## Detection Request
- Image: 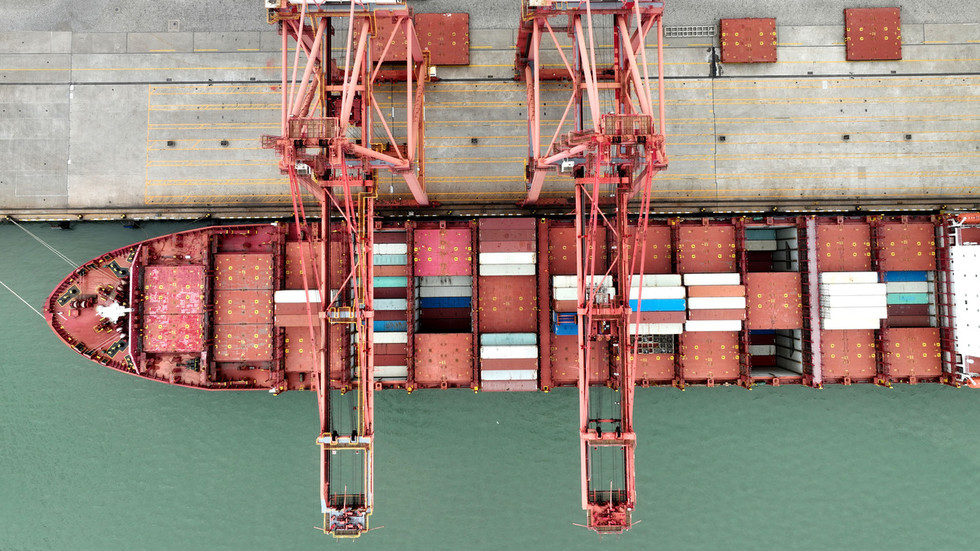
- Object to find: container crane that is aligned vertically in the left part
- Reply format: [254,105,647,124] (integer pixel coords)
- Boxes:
[259,0,449,542]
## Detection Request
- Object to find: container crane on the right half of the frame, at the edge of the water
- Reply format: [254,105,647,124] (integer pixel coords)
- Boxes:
[505,0,674,540]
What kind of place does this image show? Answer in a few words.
port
